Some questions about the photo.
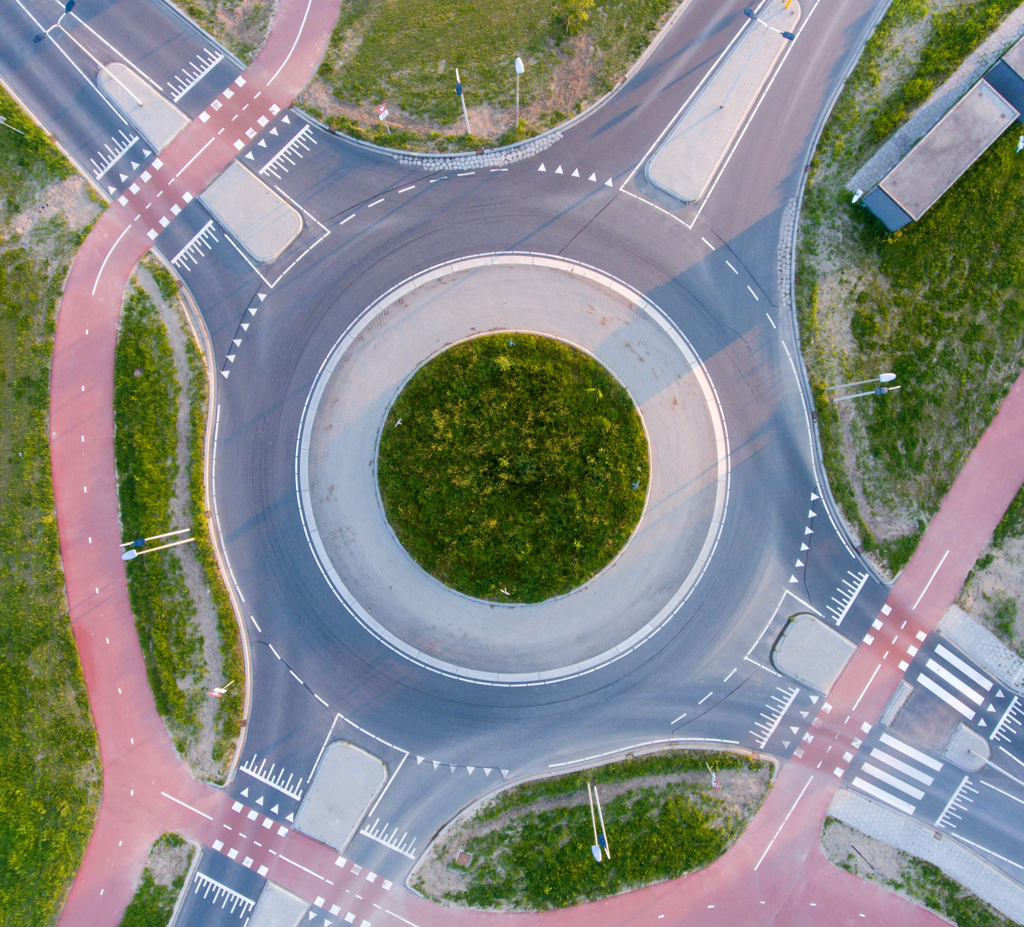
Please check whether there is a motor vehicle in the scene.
No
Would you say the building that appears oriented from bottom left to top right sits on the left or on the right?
right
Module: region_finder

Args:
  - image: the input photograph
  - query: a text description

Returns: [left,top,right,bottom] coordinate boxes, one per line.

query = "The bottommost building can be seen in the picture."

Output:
[861,78,1020,231]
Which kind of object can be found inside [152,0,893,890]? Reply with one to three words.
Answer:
roundabout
